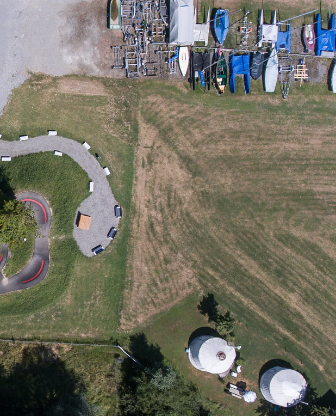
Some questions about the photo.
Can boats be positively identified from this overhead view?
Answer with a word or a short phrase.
Yes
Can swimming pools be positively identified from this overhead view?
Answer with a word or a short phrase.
No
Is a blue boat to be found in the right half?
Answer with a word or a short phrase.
Yes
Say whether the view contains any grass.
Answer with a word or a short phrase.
Yes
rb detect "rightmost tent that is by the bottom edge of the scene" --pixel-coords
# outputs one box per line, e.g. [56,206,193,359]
[260,365,312,408]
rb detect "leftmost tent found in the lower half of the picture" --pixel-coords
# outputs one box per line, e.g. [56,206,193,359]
[188,334,241,376]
